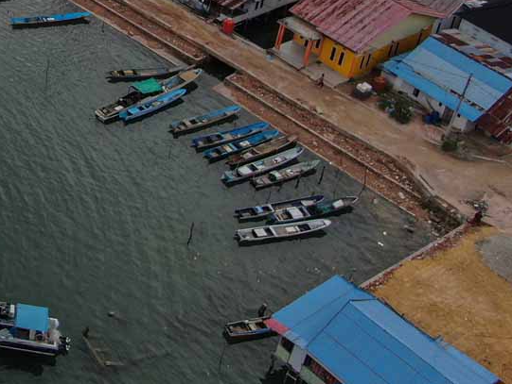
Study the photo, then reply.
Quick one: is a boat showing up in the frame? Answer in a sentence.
Yes, a boat is visible in the scene.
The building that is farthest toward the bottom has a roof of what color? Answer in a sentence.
The roof of the building that is farthest toward the bottom is blue.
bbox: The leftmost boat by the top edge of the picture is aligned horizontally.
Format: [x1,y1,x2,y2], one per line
[10,12,92,27]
